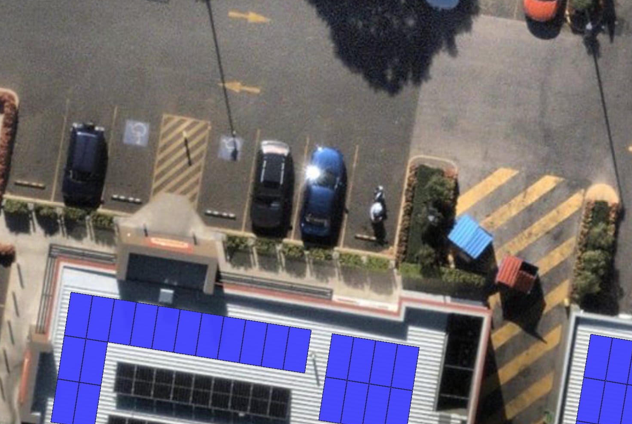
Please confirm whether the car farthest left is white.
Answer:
No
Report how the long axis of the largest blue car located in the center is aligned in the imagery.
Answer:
from top to bottom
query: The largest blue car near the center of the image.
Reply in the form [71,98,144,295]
[301,145,345,239]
